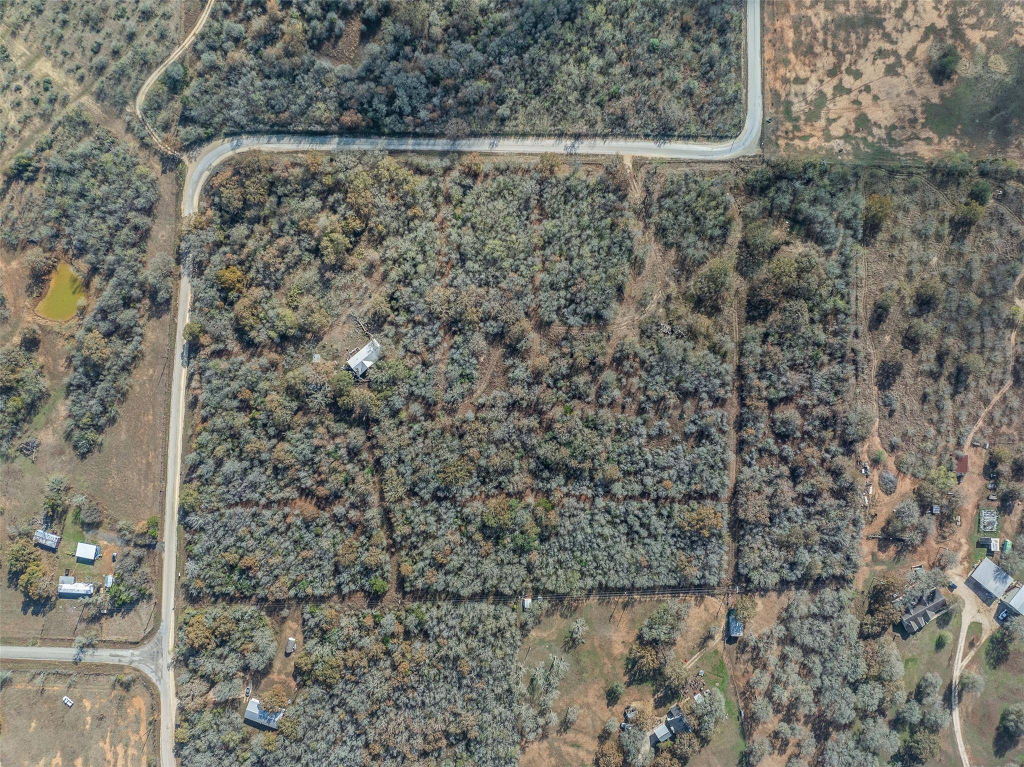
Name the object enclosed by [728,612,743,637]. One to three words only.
shed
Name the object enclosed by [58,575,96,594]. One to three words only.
house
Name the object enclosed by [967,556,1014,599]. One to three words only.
barn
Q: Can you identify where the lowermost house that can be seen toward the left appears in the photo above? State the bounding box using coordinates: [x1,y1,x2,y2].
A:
[244,697,285,730]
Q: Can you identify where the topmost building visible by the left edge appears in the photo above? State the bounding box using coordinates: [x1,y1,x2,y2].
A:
[33,529,63,548]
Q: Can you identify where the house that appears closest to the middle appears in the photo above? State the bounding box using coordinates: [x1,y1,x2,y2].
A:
[348,339,384,374]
